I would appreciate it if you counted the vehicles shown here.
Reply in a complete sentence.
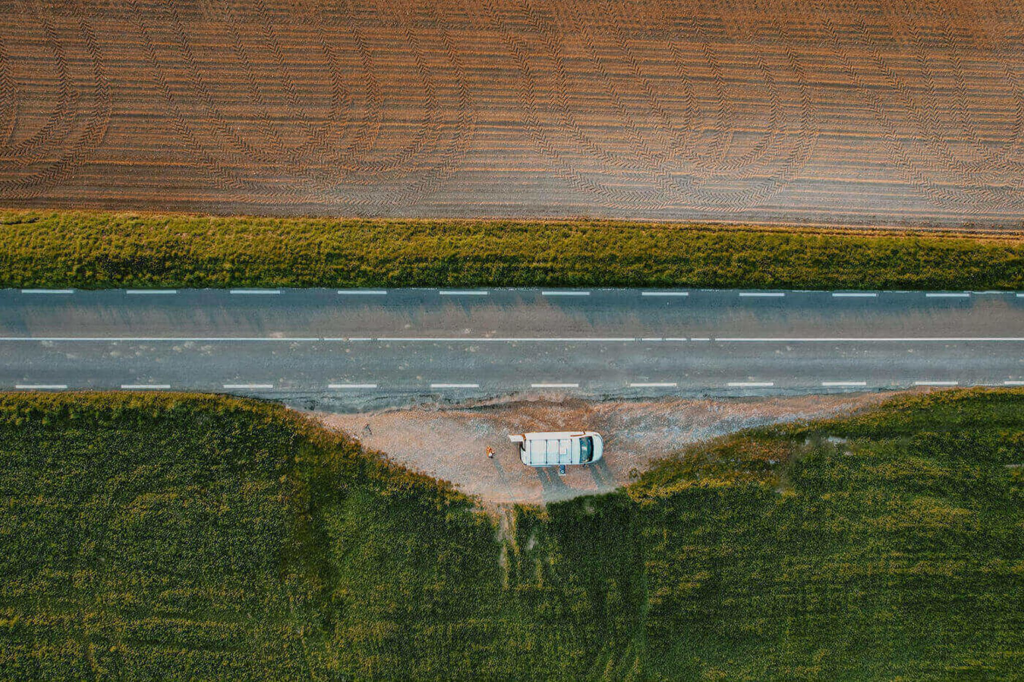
The picture shows 1 vehicle.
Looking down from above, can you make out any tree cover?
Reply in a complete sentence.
No, tree cover can't be seen anywhere here.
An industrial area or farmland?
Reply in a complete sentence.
This image shows farmland.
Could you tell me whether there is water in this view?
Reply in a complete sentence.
No, the scene doesn't show any water.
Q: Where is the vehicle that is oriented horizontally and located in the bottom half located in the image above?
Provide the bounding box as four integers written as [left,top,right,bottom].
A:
[509,431,605,469]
